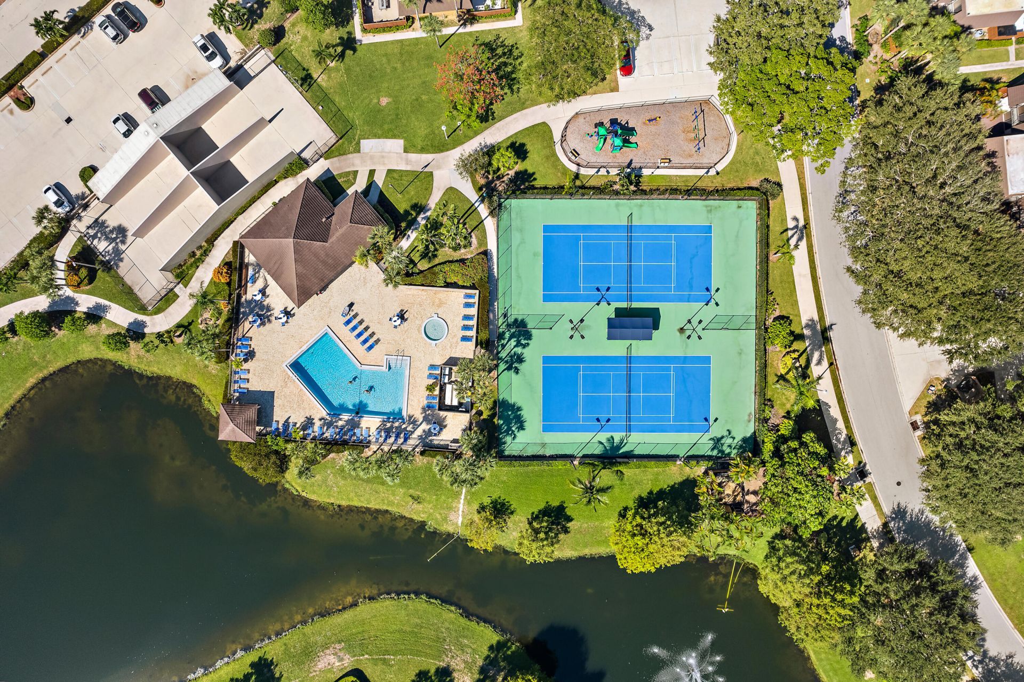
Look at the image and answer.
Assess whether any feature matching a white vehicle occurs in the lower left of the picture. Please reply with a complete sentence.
No, the scene shows no white vehicle in the lower left of the picture.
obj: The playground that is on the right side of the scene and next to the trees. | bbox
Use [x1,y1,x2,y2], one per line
[563,99,732,167]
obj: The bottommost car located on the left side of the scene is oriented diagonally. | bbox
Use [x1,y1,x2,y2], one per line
[42,182,73,213]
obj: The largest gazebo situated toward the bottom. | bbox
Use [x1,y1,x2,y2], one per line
[217,403,262,443]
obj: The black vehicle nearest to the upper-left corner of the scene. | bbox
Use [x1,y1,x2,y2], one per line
[111,1,144,35]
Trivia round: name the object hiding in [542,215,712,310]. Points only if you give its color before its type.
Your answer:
blue tennis court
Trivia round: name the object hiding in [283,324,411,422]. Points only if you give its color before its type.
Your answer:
blue swimming pool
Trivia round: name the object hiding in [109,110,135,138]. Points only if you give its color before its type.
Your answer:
white car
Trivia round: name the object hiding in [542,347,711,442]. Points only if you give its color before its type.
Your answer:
blue tennis court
